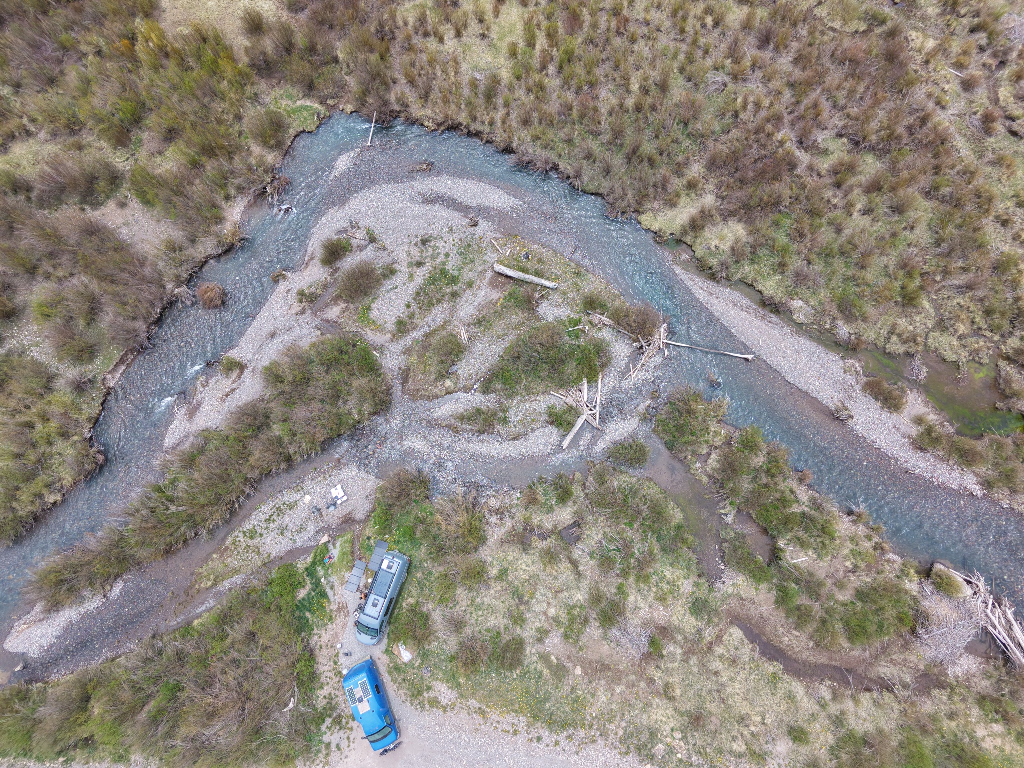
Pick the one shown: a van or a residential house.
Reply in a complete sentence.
Visible in the photo is a van.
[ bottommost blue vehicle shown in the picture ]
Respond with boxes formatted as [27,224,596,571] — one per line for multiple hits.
[341,656,399,753]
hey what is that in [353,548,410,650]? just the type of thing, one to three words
van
